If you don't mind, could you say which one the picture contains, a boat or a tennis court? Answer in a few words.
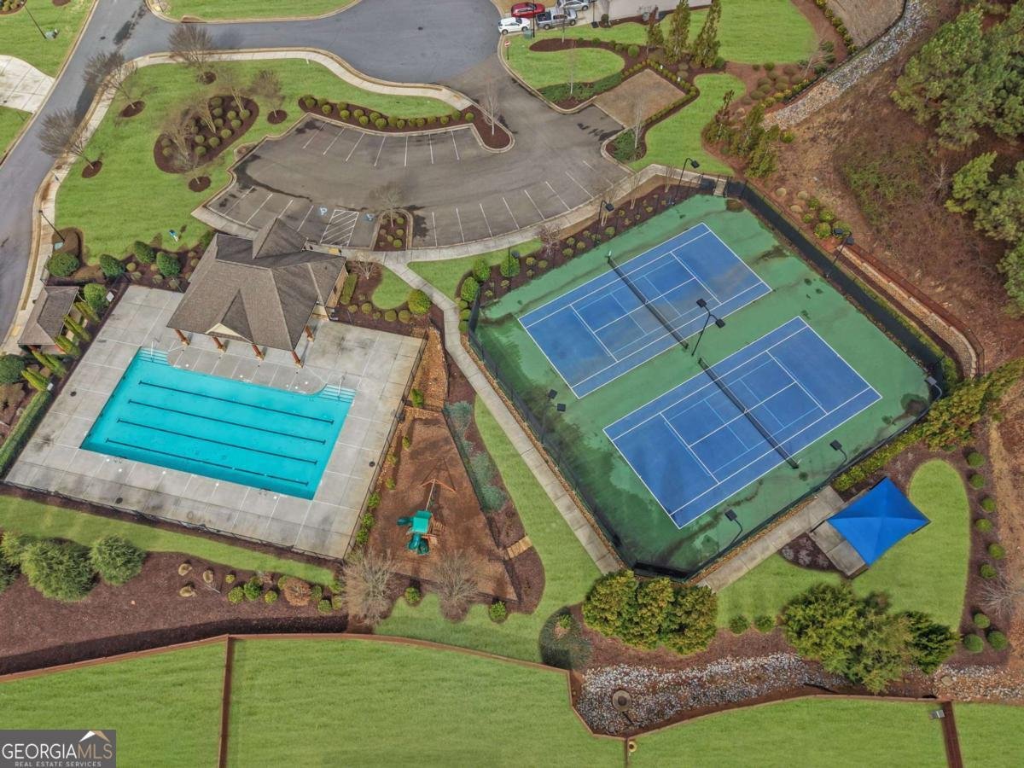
tennis court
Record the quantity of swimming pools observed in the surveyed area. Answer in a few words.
one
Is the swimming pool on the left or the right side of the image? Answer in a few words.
left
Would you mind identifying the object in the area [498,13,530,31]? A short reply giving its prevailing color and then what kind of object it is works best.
white car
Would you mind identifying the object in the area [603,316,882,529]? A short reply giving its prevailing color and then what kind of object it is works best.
blue tennis court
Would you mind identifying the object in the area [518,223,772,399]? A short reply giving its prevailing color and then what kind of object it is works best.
blue tennis court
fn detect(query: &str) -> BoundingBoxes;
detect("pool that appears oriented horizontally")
[77,344,358,502]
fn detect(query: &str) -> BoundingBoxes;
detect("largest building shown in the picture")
[166,216,347,368]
